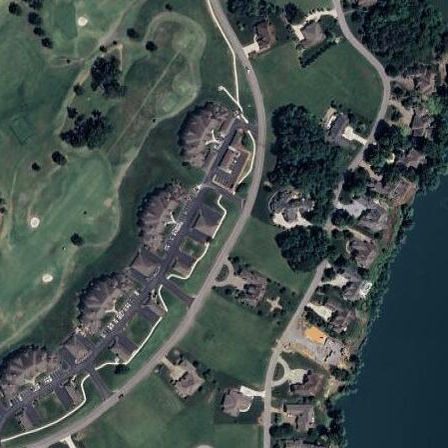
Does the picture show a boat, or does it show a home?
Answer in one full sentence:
Looking from above, you can make out a home.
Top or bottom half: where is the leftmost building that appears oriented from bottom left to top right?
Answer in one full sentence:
The bottom half of the photo is where the leftmost building that appears oriented from bottom left to top right is.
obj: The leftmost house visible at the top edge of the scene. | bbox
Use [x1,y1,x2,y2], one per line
[255,21,276,49]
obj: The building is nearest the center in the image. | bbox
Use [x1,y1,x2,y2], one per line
[191,209,220,236]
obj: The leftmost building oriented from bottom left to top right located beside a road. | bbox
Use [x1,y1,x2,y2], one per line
[0,353,63,409]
